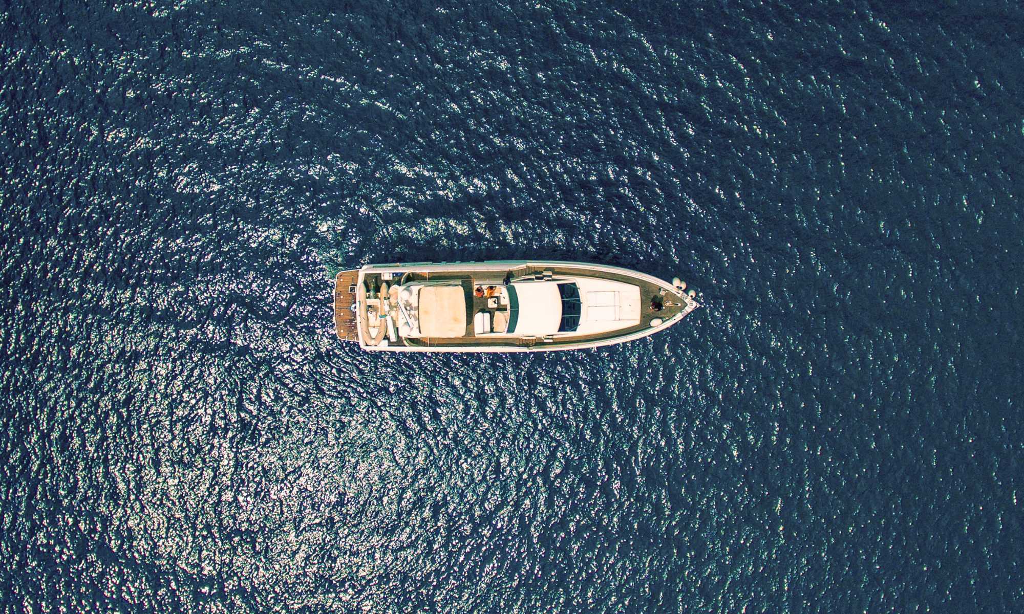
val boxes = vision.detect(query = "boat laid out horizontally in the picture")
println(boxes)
[336,261,705,352]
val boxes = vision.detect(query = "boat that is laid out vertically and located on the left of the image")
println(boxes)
[362,278,388,343]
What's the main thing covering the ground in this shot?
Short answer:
water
